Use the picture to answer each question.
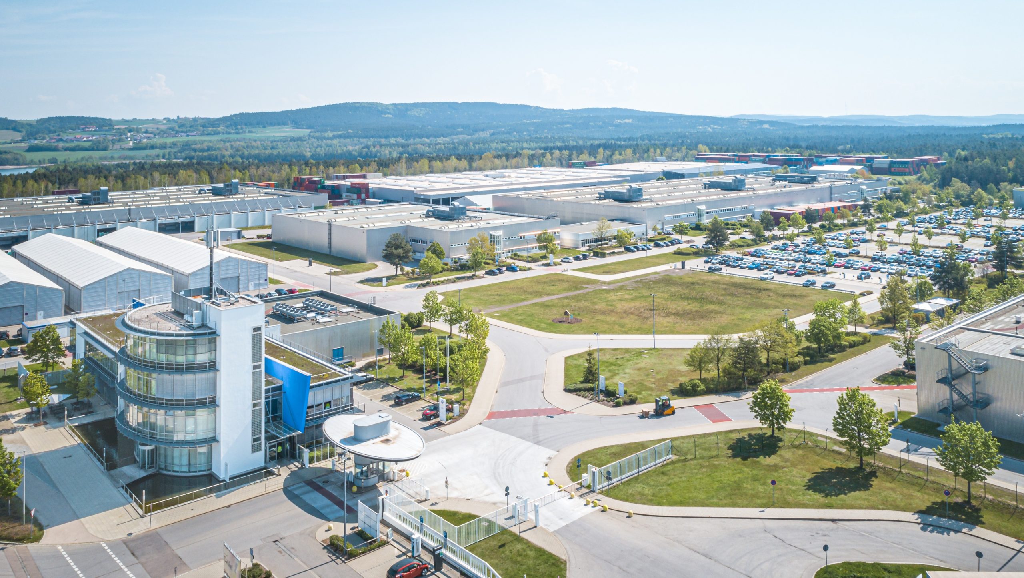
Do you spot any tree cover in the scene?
Yes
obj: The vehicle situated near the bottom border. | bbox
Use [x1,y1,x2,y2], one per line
[384,555,431,578]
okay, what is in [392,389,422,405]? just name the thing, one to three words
car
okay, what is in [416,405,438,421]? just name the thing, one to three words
car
